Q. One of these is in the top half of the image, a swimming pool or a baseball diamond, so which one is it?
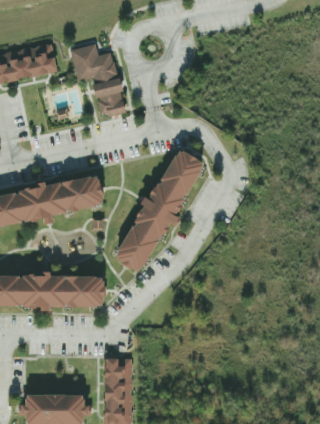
swimming pool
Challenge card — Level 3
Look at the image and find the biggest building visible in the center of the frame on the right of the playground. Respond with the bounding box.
[115,152,206,272]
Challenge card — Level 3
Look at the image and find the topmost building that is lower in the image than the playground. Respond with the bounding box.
[0,272,106,314]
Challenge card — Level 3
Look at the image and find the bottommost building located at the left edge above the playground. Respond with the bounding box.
[0,174,107,228]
